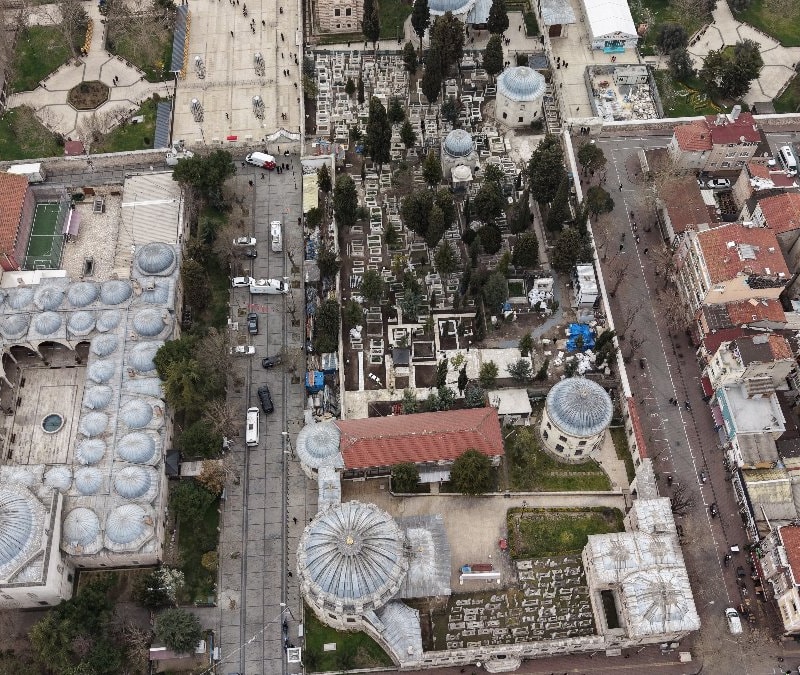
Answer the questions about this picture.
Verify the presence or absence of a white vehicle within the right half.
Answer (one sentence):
Yes, a white vehicle appears within the right half.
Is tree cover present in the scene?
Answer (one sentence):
Yes, the picture does contain tree cover.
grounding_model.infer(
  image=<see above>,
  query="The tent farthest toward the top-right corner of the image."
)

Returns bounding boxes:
[580,0,638,55]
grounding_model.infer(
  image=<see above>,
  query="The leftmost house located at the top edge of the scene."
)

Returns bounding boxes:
[310,0,373,35]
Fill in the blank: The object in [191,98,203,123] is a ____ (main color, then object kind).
gray umbrella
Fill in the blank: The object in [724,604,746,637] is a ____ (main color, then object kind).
white car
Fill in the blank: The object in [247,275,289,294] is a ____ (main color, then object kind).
white vehicle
